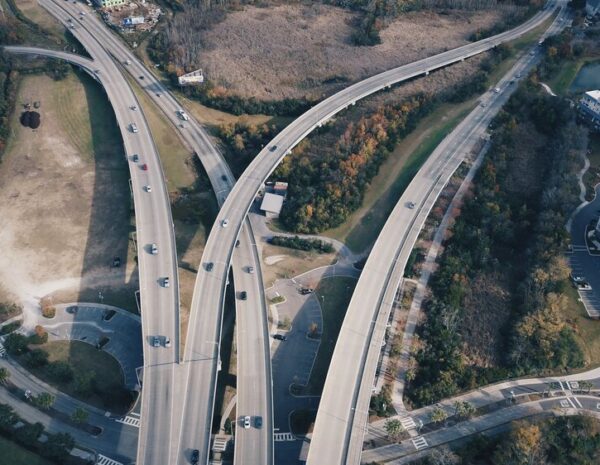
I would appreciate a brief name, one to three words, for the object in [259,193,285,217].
shed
